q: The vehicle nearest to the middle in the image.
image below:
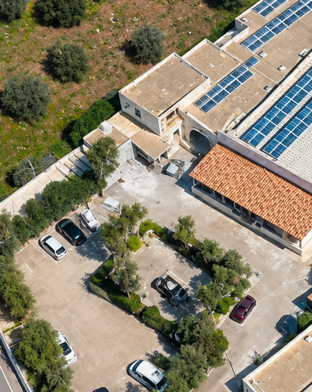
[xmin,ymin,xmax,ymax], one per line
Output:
[92,188,127,215]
